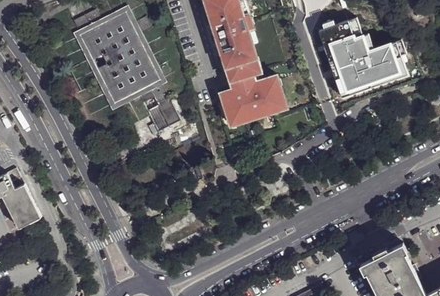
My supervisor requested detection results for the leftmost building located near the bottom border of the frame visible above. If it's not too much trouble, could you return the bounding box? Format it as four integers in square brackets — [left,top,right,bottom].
[360,245,426,296]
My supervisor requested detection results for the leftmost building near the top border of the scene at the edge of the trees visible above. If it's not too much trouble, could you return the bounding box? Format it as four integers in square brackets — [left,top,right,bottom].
[74,6,168,110]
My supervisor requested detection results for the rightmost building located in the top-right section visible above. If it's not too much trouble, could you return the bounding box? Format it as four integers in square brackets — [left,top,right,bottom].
[320,20,412,100]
